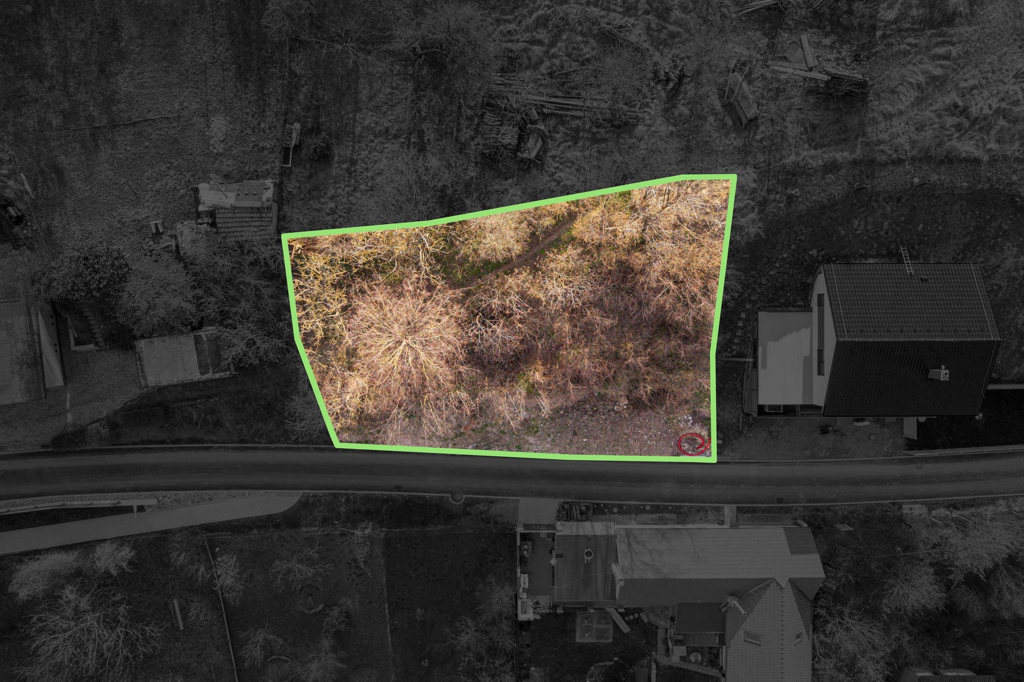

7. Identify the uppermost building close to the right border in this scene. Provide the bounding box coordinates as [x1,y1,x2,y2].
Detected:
[741,261,1013,418]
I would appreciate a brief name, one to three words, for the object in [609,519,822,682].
house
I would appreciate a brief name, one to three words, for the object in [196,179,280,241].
shed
